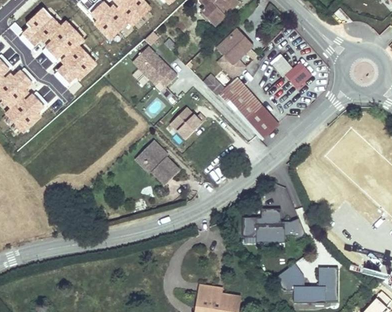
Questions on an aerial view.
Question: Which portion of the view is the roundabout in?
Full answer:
The roundabout appears toward the top right of the photo.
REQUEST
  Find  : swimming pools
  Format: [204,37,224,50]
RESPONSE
[144,96,168,120]
[170,132,185,147]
